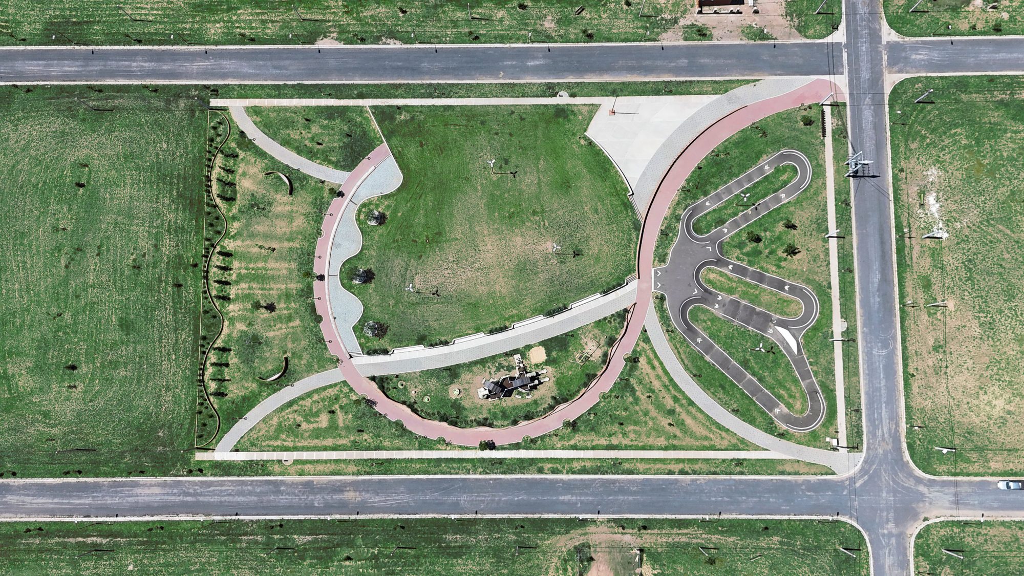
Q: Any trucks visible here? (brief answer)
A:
No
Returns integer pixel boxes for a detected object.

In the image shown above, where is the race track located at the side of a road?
[652,149,826,432]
